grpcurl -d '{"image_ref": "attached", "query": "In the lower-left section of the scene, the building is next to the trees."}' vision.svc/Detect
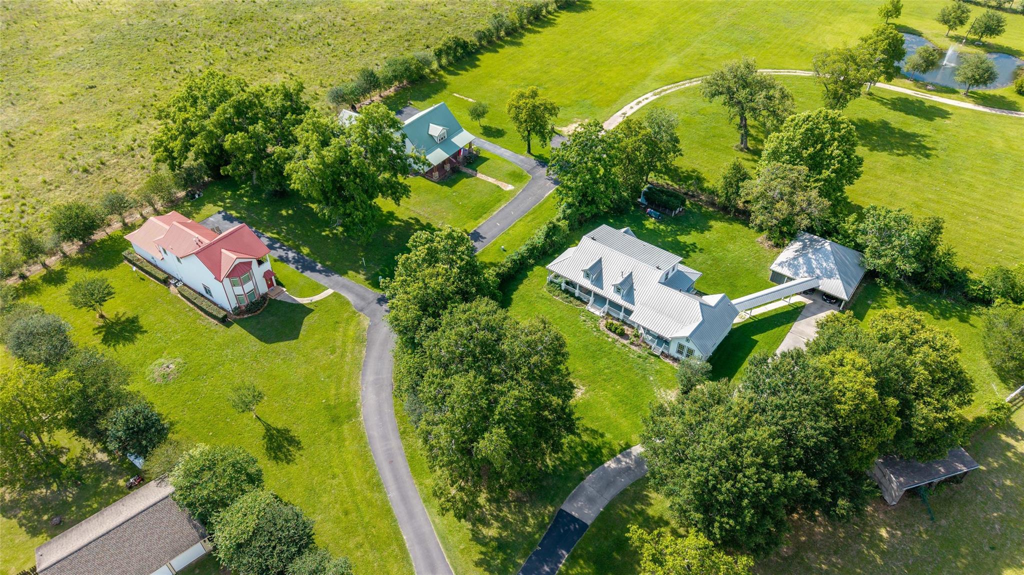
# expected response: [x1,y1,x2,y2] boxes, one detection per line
[36,466,217,575]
